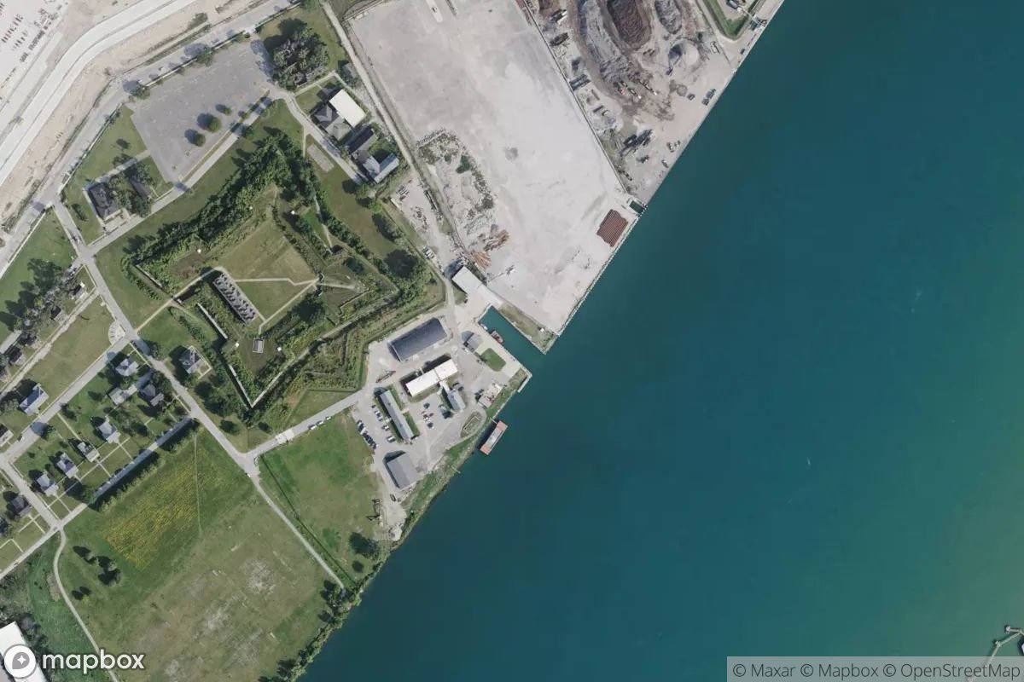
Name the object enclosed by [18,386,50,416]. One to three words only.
house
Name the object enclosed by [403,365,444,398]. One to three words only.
building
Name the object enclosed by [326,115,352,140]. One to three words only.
house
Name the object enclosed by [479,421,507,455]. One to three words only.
ship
